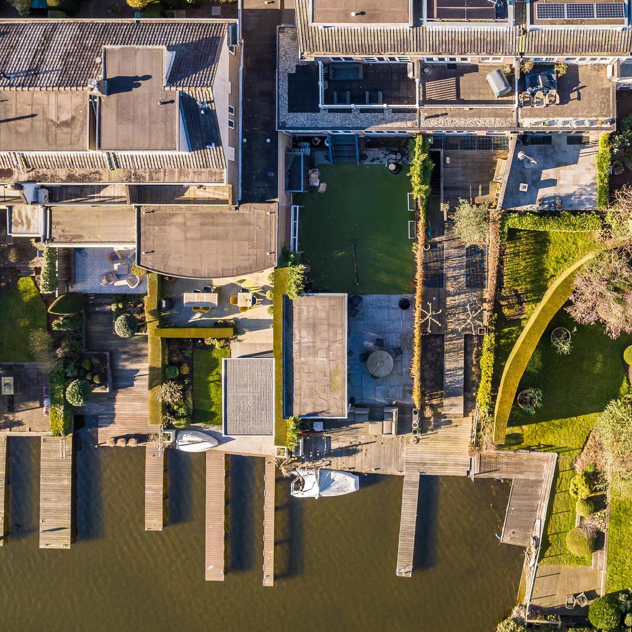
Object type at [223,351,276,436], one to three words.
shed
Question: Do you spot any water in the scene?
Yes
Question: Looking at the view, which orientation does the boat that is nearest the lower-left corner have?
from left to right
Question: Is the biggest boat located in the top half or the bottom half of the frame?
bottom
